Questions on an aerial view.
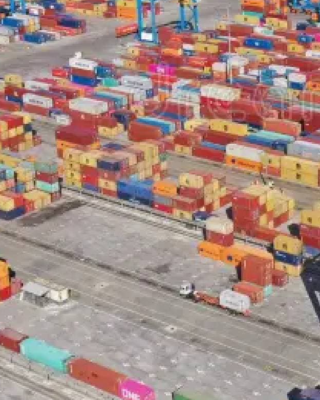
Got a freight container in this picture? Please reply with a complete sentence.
Yes, looking at the shot, I can spot a freight container.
